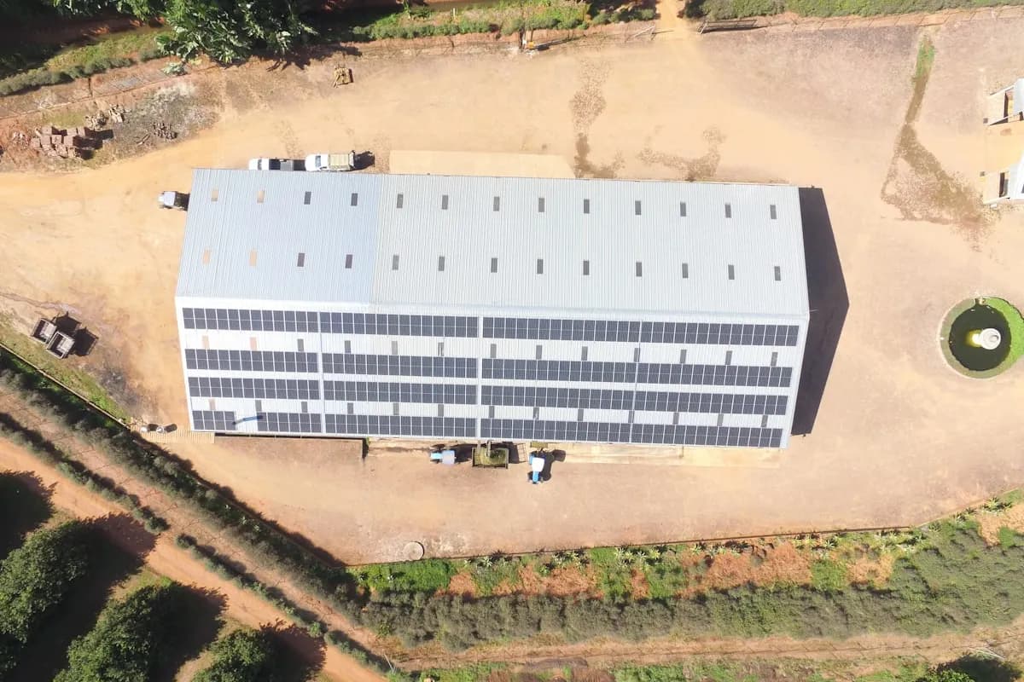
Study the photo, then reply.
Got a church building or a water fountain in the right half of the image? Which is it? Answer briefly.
water fountain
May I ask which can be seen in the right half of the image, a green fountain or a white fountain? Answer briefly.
white fountain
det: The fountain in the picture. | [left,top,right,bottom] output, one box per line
[967,325,1002,349]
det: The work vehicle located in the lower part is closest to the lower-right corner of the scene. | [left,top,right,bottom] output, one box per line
[529,442,547,481]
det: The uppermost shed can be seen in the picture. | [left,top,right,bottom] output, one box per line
[984,78,1024,127]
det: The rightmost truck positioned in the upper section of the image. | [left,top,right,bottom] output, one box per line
[305,147,358,172]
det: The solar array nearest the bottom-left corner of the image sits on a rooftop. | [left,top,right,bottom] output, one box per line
[190,410,236,430]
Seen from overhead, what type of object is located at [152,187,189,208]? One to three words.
work vehicle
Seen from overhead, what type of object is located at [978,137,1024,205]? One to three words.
shed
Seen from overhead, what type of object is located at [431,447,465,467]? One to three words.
work vehicle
